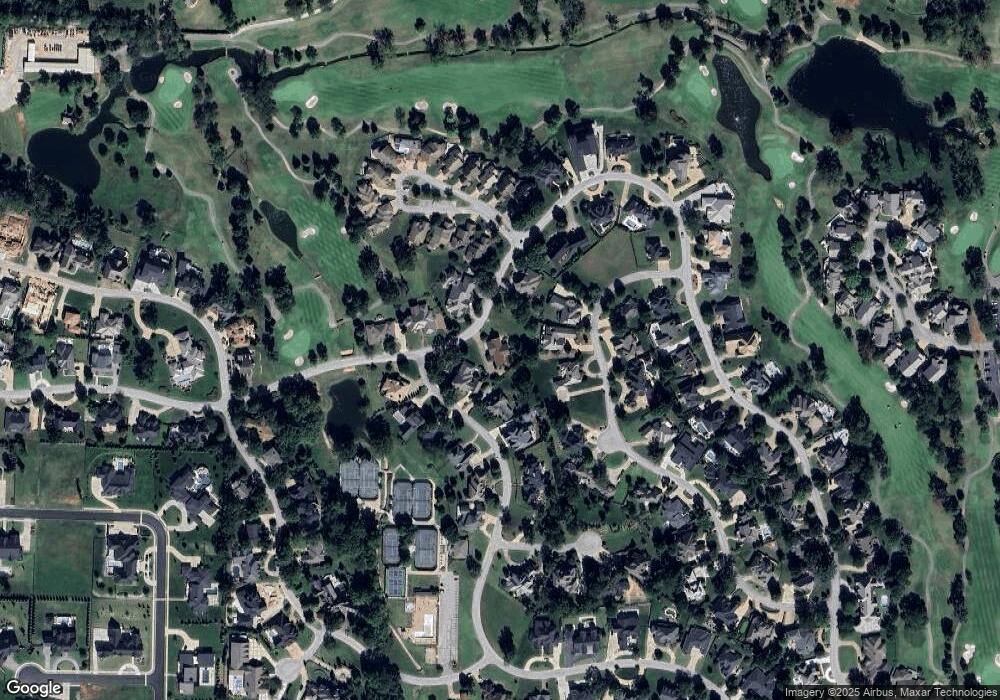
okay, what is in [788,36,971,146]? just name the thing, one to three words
pond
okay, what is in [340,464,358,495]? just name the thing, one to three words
tennis court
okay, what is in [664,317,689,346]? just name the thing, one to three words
house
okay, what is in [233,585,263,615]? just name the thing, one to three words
house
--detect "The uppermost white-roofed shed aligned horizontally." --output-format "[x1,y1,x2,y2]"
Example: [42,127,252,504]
[23,43,94,72]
